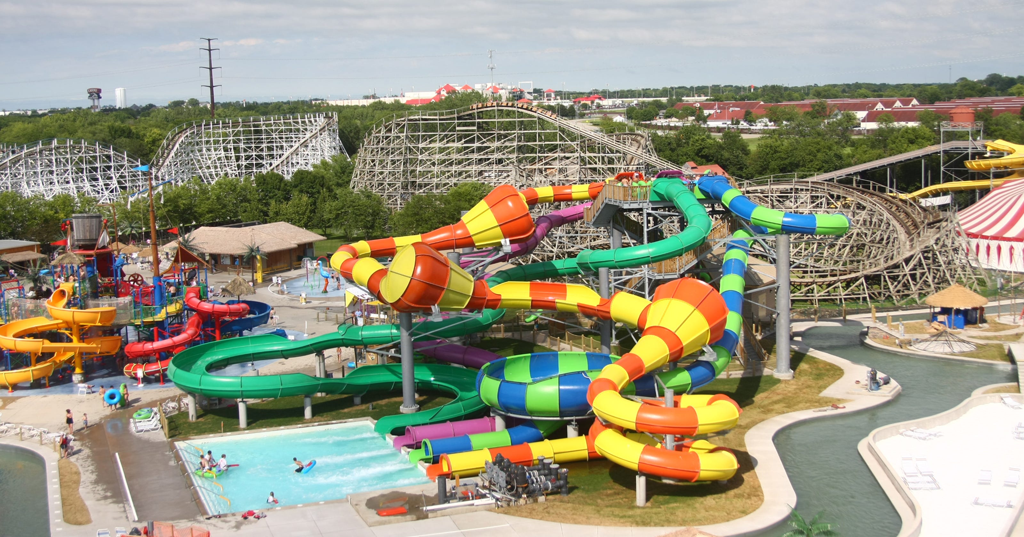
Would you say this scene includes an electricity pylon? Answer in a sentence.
Yes, looking at the shot, I can spot an electricity pylon.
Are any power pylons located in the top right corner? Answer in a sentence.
No, looking in the top right corner, there is no power pylon.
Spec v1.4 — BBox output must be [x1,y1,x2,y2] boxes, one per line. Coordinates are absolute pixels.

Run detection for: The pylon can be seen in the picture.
[197,35,223,122]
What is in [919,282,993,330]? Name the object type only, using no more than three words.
shed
